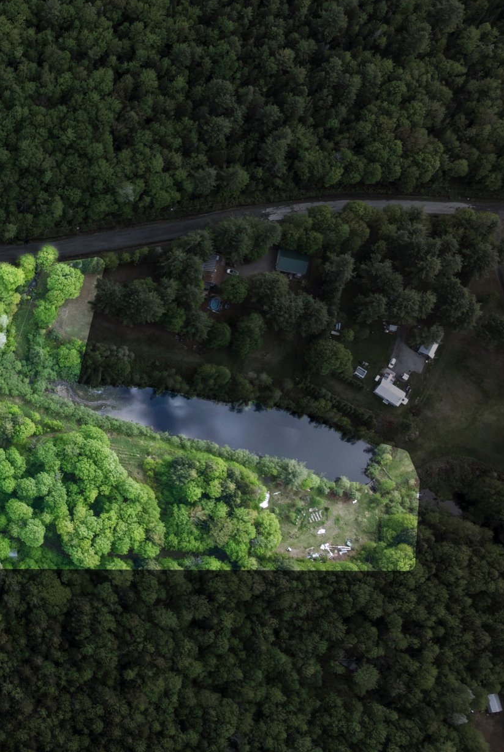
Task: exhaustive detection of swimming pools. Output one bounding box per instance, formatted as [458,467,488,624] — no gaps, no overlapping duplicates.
[207,297,222,314]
